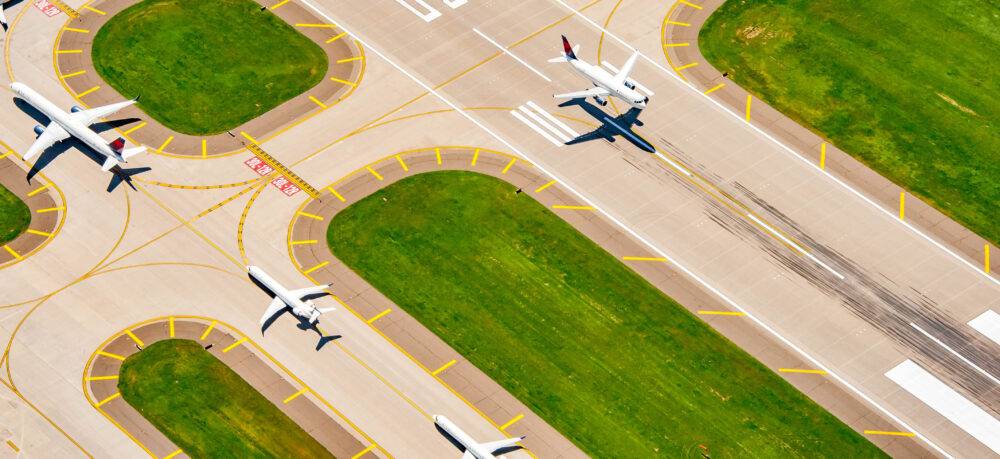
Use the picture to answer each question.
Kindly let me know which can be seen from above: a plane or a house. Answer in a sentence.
The image shows a plane.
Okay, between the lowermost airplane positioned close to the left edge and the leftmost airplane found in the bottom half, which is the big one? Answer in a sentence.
The lowermost airplane positioned close to the left edge is bigger than the leftmost airplane found in the bottom half.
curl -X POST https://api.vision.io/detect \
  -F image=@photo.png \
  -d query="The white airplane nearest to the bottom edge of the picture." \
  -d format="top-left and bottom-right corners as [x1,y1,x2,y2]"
[434,417,527,459]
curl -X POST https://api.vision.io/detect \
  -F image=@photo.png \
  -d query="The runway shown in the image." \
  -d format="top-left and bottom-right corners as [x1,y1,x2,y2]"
[287,0,1000,459]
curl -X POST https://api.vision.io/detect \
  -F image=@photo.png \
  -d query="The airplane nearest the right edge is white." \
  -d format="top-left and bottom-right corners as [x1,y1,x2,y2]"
[551,37,646,111]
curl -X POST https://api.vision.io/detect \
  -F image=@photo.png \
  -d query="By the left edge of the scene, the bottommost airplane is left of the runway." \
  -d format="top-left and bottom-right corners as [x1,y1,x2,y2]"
[10,84,147,170]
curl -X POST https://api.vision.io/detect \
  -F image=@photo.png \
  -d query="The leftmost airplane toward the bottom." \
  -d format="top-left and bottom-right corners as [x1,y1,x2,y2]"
[247,268,336,325]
